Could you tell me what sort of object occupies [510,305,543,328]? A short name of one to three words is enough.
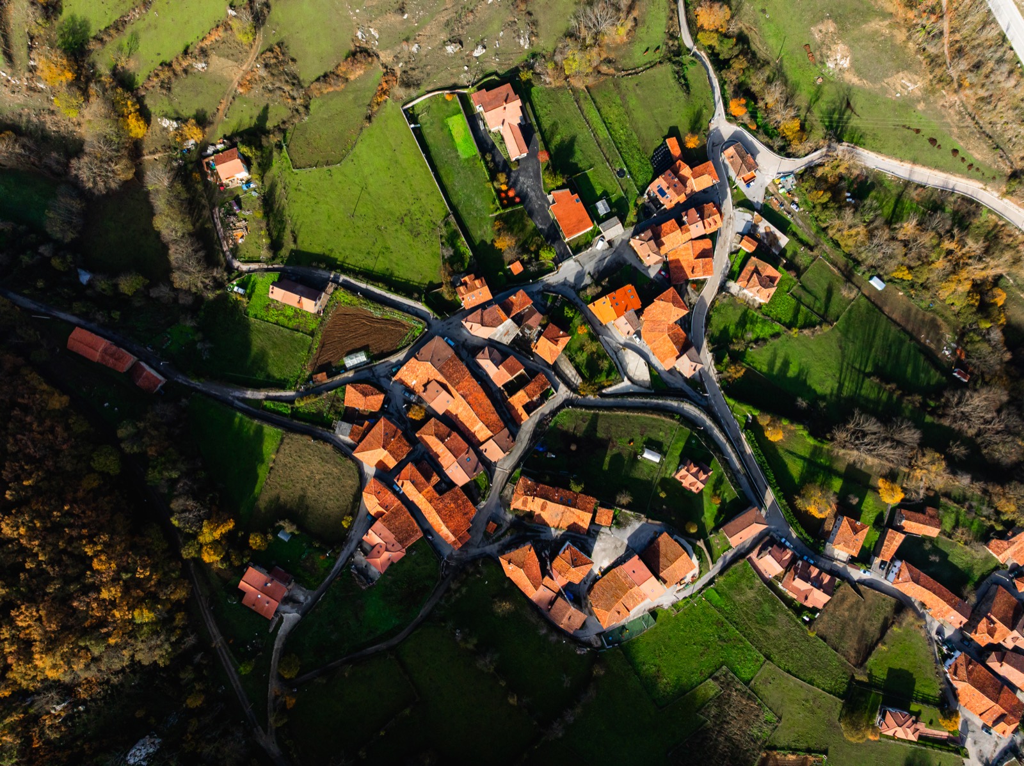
shed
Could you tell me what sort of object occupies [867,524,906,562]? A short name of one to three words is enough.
house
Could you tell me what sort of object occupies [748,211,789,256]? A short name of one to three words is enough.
building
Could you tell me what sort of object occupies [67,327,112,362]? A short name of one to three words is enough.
barn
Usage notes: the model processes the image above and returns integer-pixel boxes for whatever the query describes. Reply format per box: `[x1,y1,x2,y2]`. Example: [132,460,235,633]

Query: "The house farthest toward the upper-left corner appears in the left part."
[214,148,249,186]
